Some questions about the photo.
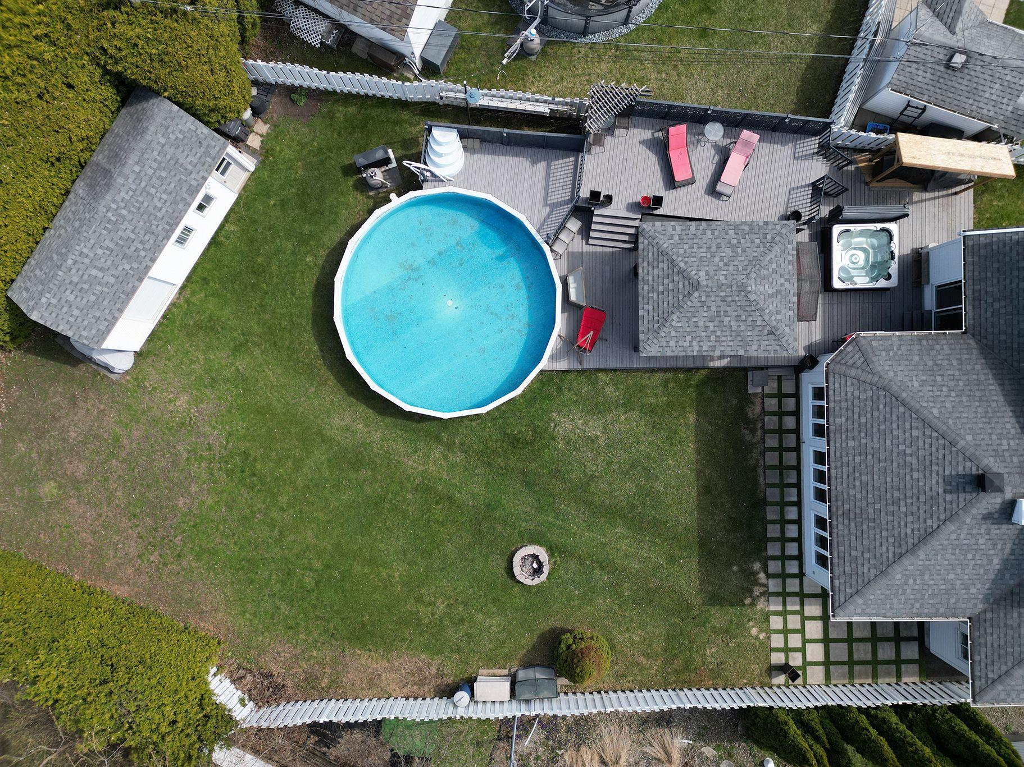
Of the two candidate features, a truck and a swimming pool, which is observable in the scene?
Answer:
swimming pool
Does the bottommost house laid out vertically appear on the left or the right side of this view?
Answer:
right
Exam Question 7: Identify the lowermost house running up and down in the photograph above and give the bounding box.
[801,218,1024,706]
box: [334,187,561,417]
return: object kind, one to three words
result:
swimming pool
